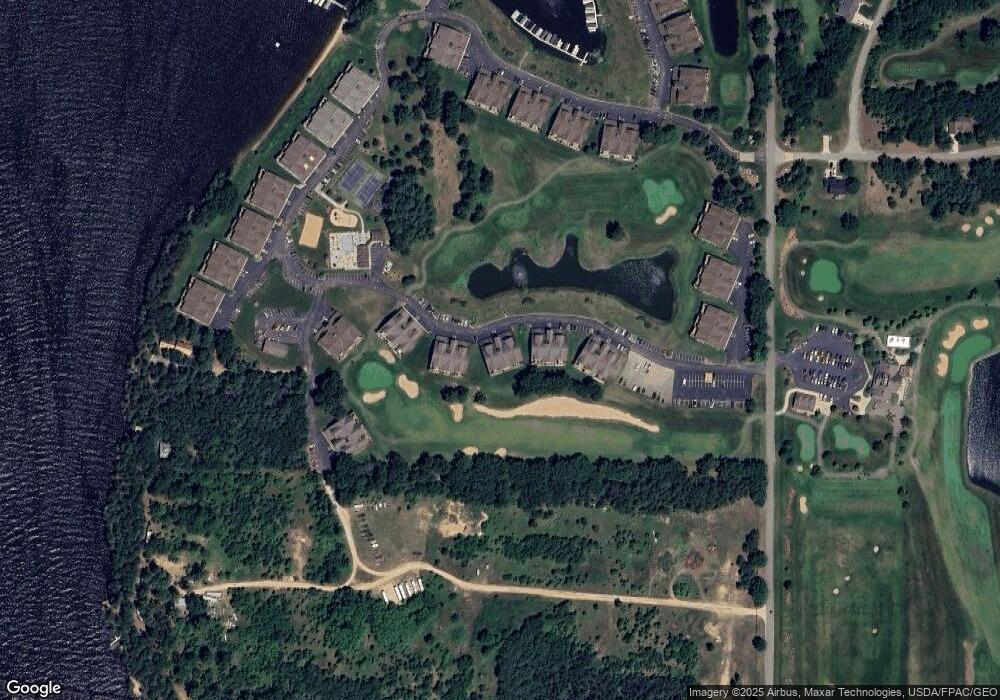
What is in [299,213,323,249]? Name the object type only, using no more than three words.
sports court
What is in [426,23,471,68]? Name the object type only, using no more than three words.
building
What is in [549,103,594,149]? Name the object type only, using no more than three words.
building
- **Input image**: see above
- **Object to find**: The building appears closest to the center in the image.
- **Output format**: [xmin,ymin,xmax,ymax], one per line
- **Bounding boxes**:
[481,334,523,377]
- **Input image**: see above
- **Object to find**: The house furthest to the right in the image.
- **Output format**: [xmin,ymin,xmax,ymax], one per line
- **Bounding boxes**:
[947,118,975,134]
